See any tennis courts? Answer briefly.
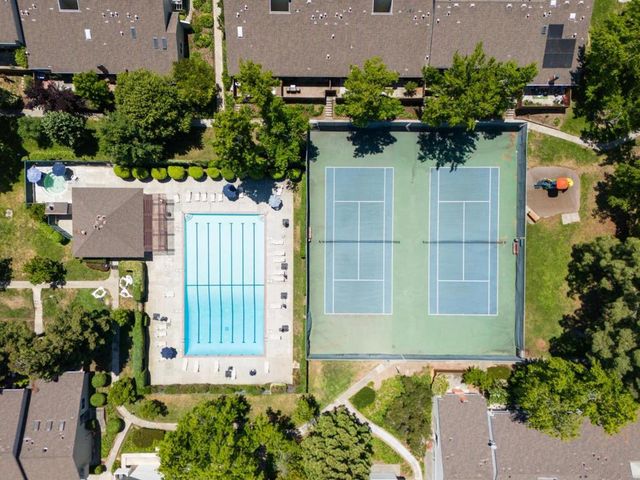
Yes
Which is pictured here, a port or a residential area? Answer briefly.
residential area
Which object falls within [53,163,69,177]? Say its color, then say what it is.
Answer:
blue umbrella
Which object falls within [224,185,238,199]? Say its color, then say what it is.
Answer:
blue umbrella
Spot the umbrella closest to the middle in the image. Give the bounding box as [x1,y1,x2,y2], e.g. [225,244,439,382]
[269,194,282,208]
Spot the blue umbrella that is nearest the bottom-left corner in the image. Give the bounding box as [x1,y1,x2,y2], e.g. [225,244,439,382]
[161,346,174,359]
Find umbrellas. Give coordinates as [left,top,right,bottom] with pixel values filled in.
[224,185,238,199]
[269,194,282,208]
[53,163,69,177]
[161,346,174,359]
[29,168,44,182]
